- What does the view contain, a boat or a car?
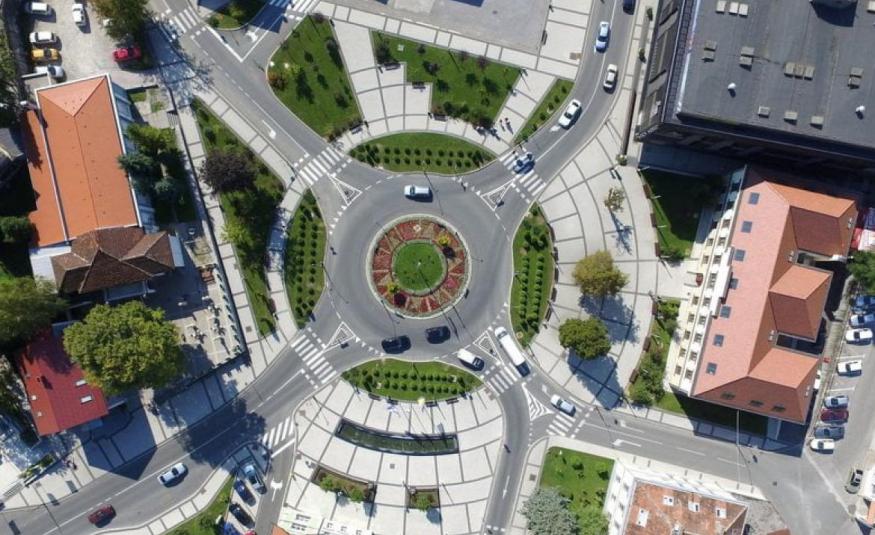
car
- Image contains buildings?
Yes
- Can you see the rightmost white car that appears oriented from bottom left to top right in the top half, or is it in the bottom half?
top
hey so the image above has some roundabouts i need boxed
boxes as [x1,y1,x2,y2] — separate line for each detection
[326,174,511,359]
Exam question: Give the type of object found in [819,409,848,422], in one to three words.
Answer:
vehicle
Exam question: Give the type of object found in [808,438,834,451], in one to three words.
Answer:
vehicle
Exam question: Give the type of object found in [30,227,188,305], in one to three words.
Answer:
house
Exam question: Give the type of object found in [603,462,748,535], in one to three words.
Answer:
building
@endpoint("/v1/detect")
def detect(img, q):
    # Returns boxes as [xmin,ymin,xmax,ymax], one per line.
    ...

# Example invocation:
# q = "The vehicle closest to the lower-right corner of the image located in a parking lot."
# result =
[844,466,862,493]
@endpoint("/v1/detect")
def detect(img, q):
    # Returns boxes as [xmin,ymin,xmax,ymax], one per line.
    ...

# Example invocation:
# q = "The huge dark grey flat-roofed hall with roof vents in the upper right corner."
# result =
[639,0,875,175]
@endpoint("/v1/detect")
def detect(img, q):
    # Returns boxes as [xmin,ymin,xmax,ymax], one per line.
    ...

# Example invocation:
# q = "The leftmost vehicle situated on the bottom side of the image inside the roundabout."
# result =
[383,337,410,350]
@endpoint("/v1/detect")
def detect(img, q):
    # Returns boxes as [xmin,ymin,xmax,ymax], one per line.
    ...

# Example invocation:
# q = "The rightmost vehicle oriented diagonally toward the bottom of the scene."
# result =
[550,395,575,414]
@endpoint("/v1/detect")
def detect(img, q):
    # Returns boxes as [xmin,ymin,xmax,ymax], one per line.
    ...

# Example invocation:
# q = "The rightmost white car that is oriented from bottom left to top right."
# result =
[559,101,581,127]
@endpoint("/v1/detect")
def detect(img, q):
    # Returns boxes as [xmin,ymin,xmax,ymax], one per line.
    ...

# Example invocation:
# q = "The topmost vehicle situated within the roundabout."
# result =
[404,185,431,197]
